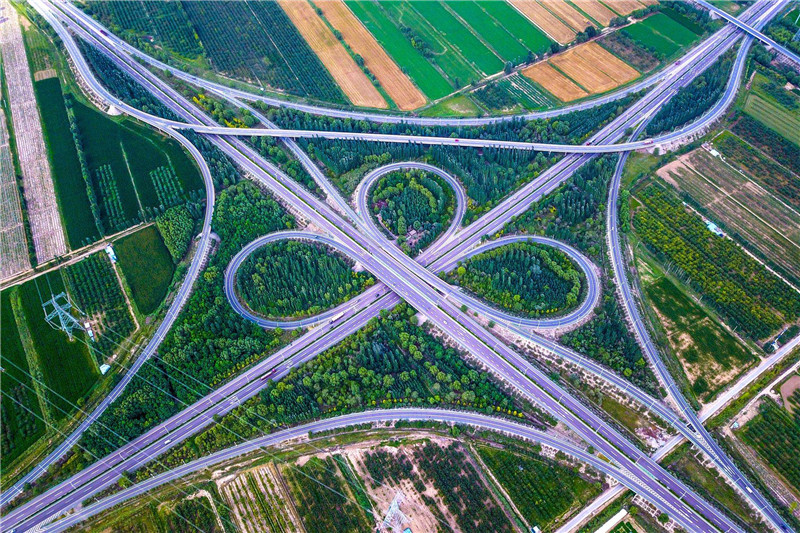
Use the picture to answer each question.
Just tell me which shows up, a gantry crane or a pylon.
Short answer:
pylon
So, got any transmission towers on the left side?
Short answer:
Yes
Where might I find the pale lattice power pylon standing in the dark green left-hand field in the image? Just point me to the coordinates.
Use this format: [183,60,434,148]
[44,292,84,338]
